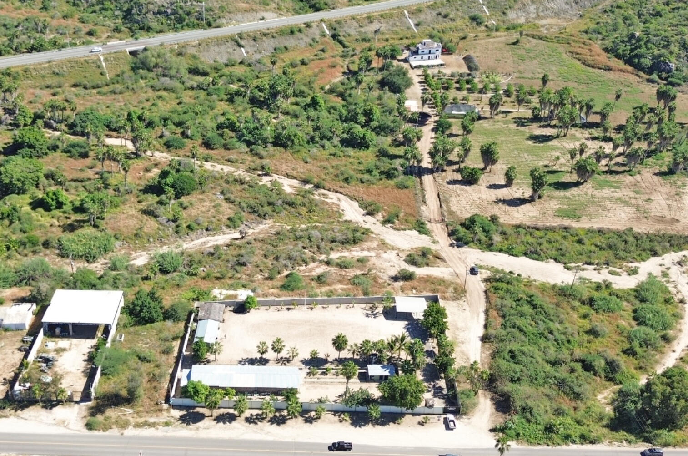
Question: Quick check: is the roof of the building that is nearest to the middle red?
No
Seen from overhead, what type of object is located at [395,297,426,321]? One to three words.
building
